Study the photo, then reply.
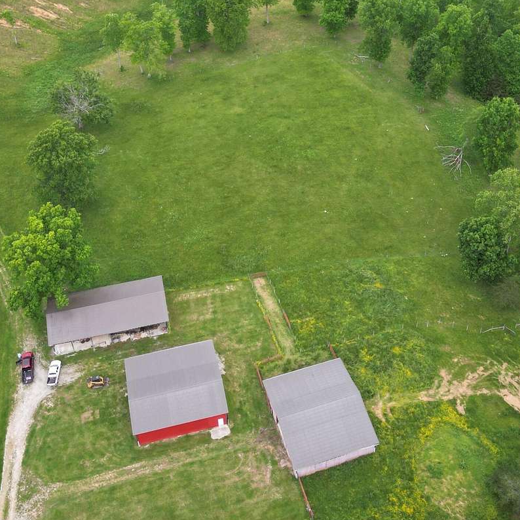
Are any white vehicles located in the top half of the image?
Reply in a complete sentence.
No, there is no white vehicle in the top half of the image.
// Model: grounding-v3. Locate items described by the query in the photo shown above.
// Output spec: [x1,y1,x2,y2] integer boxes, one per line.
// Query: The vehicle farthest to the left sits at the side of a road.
[14,351,37,388]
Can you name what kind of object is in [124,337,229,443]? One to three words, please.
barn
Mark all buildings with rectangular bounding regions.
[261,357,380,477]
[45,273,169,356]
[124,337,229,443]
